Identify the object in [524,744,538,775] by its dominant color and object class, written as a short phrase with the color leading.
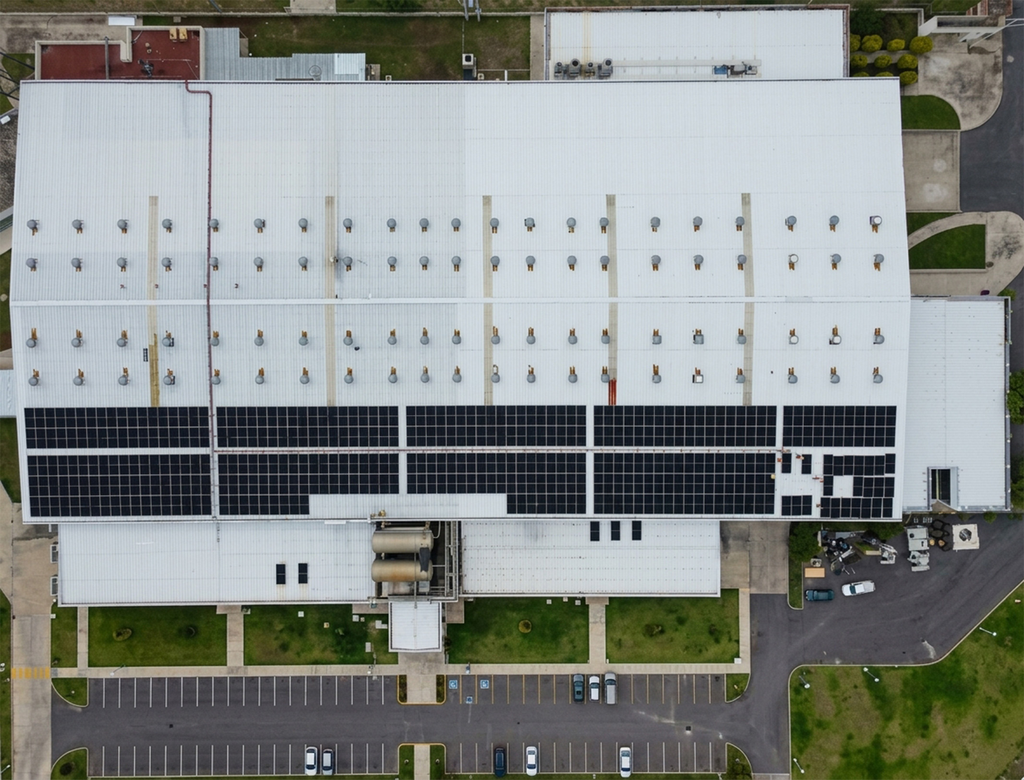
white car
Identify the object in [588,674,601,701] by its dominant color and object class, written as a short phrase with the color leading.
white vehicle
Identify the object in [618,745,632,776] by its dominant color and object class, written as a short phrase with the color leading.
white car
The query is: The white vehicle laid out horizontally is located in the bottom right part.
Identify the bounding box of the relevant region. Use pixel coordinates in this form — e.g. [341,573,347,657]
[840,579,876,598]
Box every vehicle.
[588,674,601,701]
[803,588,833,603]
[618,745,632,776]
[493,746,506,776]
[840,579,876,598]
[524,744,538,775]
[321,747,334,774]
[572,673,585,702]
[304,745,319,774]
[604,671,618,706]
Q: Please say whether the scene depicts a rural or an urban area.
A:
urban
